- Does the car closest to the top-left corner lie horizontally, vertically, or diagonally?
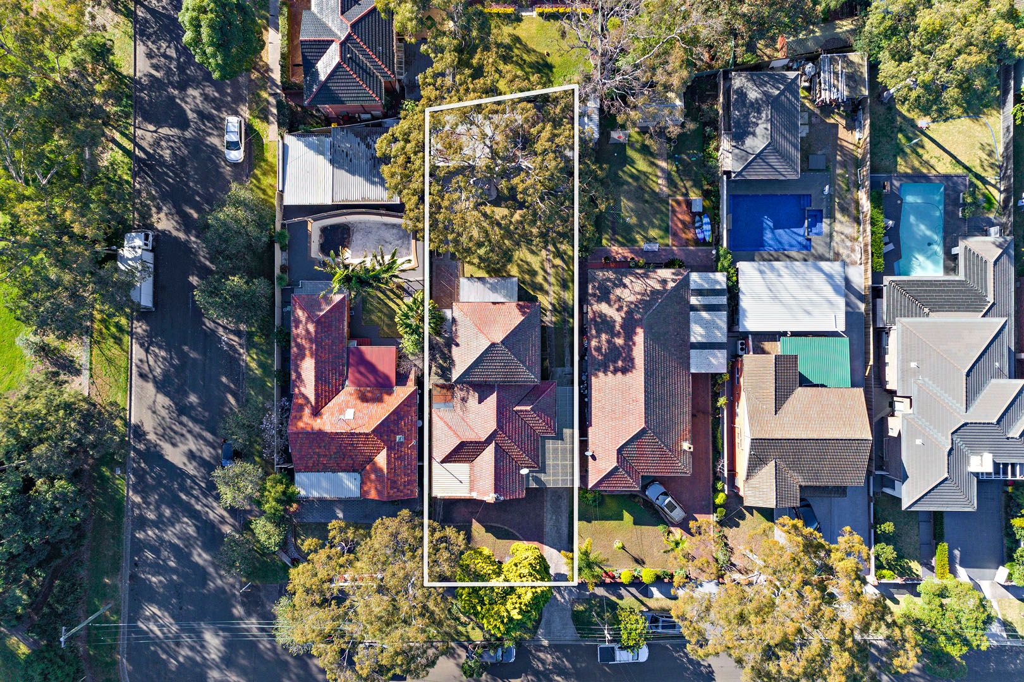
vertically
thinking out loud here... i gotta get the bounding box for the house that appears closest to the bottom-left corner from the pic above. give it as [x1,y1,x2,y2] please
[288,293,418,502]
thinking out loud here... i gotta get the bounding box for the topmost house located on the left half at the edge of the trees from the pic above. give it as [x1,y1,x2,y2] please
[299,0,397,108]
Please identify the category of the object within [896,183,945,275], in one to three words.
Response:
swimming pool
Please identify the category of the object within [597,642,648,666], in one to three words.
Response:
truck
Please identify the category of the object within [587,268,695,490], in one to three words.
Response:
house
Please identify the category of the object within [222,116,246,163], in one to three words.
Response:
car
